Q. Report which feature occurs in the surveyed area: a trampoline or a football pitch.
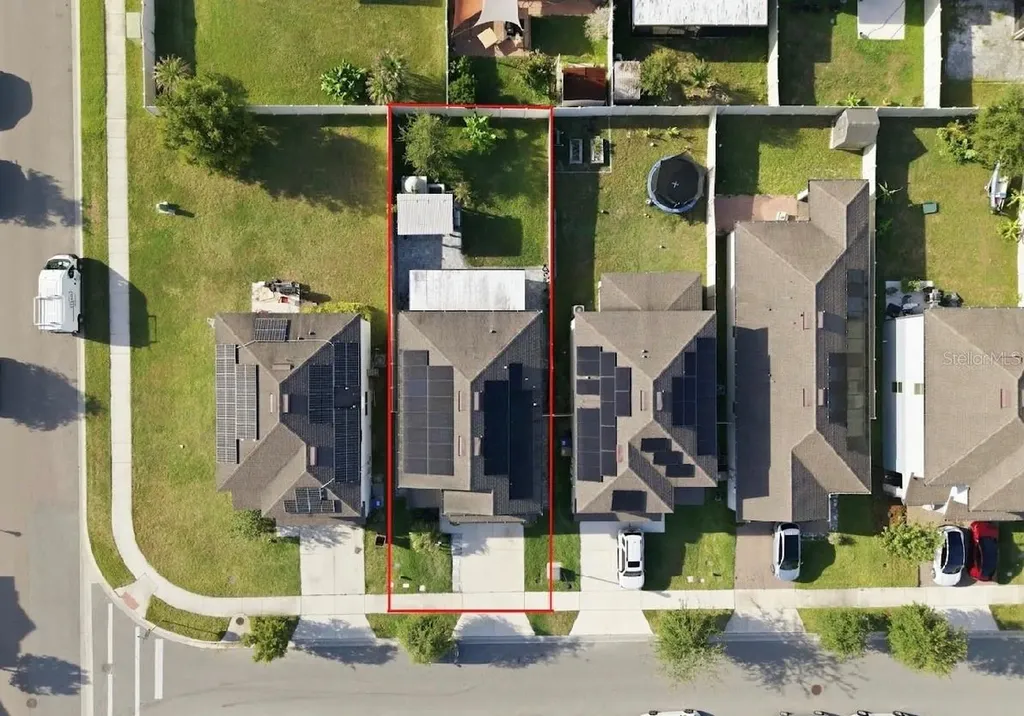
trampoline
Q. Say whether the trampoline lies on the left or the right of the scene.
right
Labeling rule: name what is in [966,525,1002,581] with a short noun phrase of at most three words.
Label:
car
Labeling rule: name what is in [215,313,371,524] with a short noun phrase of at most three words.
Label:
house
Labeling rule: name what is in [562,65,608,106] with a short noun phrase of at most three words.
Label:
shed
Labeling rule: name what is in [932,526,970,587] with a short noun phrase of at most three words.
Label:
car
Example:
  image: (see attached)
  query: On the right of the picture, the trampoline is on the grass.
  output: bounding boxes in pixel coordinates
[648,147,709,213]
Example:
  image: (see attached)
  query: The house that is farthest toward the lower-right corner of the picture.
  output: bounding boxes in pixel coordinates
[884,307,1024,521]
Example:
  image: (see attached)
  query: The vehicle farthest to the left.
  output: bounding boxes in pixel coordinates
[31,257,84,335]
